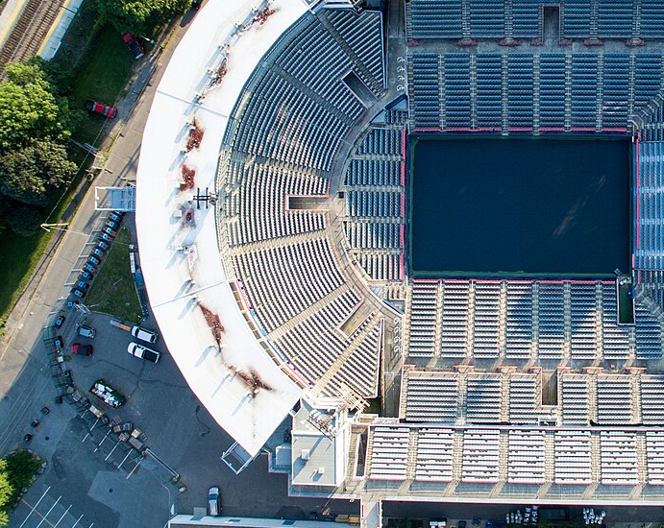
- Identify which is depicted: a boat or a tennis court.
tennis court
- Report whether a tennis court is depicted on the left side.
No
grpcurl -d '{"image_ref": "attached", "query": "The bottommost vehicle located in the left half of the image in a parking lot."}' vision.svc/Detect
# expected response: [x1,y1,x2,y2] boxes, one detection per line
[205,485,221,517]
